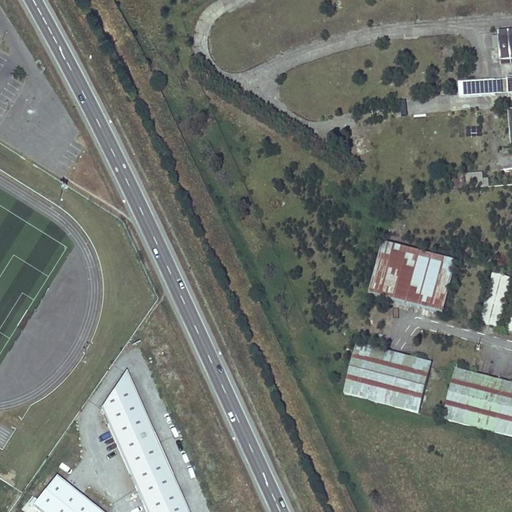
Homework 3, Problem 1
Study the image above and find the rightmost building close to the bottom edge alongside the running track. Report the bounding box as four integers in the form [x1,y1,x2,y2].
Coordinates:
[101,368,190,512]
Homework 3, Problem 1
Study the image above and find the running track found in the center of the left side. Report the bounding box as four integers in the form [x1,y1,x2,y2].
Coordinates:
[0,170,102,409]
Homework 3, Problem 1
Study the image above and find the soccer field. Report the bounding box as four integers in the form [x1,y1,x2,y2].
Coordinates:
[0,188,74,362]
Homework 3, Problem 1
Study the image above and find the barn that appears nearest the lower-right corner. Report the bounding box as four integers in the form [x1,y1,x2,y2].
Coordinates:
[447,367,512,439]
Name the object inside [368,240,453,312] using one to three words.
barn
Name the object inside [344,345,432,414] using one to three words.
barn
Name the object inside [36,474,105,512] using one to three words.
building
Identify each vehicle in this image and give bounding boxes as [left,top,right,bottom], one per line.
[106,451,116,459]
[170,424,179,438]
[98,432,112,441]
[178,278,185,289]
[227,411,236,424]
[216,364,224,374]
[278,498,286,508]
[106,444,116,451]
[186,466,196,478]
[152,248,159,258]
[164,413,172,424]
[58,460,72,472]
[176,440,184,451]
[180,451,190,464]
[78,93,85,104]
[104,438,114,446]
